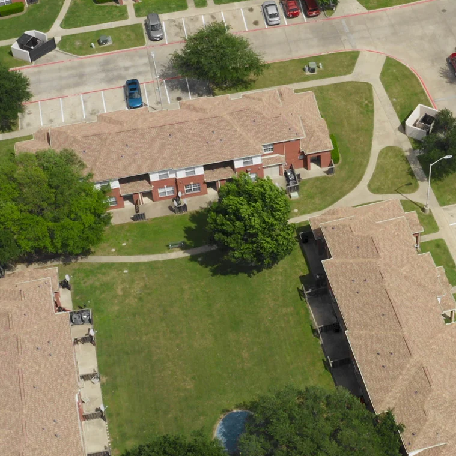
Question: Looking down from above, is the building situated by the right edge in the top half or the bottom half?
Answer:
bottom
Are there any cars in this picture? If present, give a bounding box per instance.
[280,0,301,18]
[448,53,456,77]
[261,0,281,26]
[301,0,321,17]
[146,11,163,39]
[125,79,143,108]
